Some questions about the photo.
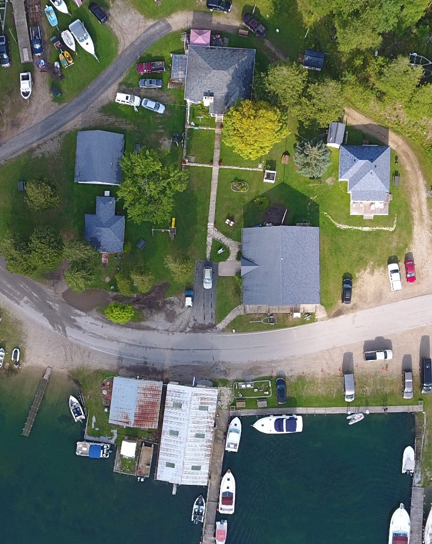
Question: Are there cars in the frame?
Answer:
Yes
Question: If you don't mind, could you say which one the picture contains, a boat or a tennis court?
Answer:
boat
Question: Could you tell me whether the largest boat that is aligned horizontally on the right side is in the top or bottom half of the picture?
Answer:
bottom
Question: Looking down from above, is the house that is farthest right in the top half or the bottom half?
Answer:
top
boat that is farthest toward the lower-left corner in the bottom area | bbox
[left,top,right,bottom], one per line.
[77,442,111,459]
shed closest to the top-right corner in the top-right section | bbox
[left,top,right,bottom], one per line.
[303,51,325,71]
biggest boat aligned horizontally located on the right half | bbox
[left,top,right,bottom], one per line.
[253,415,304,435]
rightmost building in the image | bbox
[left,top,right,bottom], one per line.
[338,145,393,219]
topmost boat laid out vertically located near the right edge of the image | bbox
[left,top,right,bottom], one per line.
[401,446,415,477]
